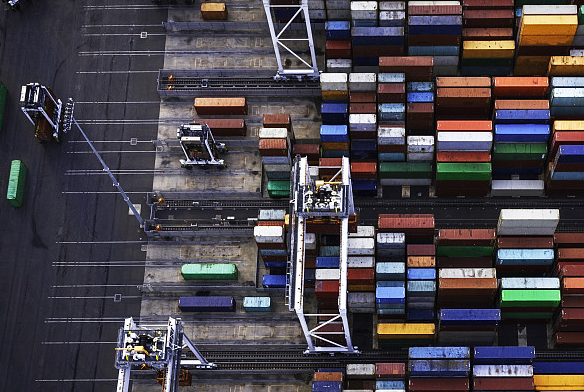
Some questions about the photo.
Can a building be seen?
No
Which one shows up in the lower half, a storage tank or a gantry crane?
gantry crane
